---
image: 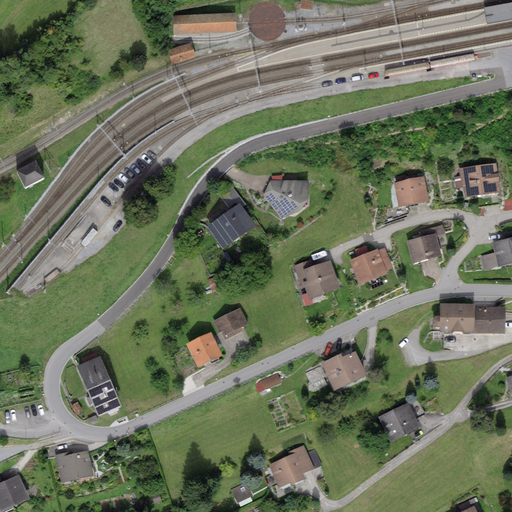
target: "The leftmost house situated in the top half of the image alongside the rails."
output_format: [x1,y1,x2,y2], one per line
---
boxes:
[17,160,45,188]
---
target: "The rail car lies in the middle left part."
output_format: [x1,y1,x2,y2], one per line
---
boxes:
[44,268,62,283]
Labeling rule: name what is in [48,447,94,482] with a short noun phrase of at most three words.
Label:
house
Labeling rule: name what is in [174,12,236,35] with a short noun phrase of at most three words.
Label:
shed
